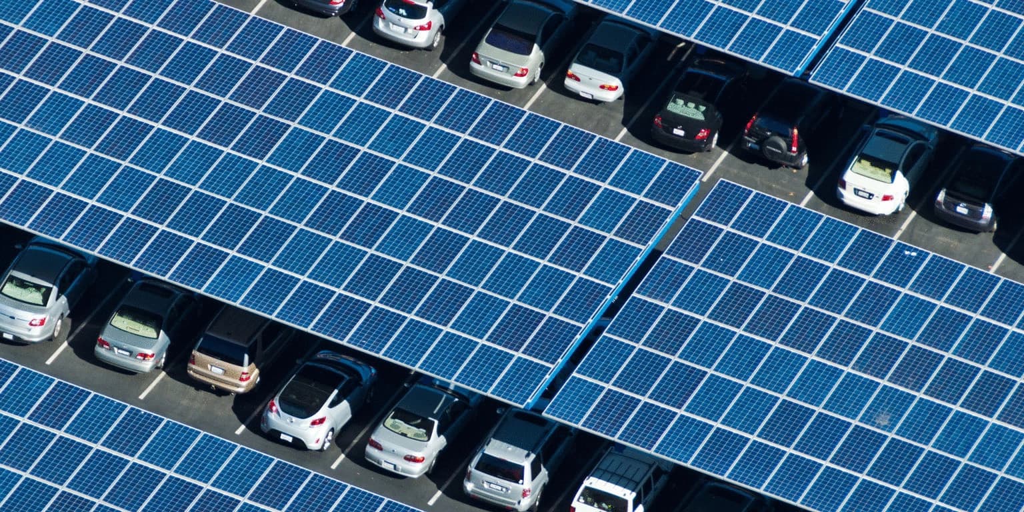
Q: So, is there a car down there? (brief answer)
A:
Yes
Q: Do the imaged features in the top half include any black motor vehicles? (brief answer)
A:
Yes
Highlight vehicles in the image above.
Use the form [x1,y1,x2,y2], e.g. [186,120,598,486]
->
[0,237,112,347]
[934,140,1024,233]
[469,0,582,90]
[186,302,305,393]
[377,0,478,51]
[92,274,213,376]
[463,396,588,512]
[836,115,944,217]
[362,372,482,481]
[649,52,761,154]
[561,13,663,102]
[741,69,848,168]
[567,439,682,512]
[263,350,377,453]
[683,474,777,512]
[287,0,356,17]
